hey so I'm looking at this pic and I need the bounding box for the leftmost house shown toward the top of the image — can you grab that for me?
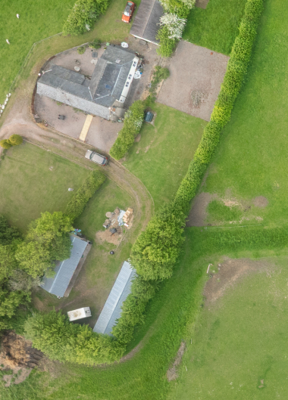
[38,45,140,121]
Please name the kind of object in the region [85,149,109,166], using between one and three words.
car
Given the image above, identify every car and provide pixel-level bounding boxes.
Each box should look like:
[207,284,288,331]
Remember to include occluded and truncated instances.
[85,149,109,166]
[122,1,136,22]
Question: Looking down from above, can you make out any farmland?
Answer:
Yes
